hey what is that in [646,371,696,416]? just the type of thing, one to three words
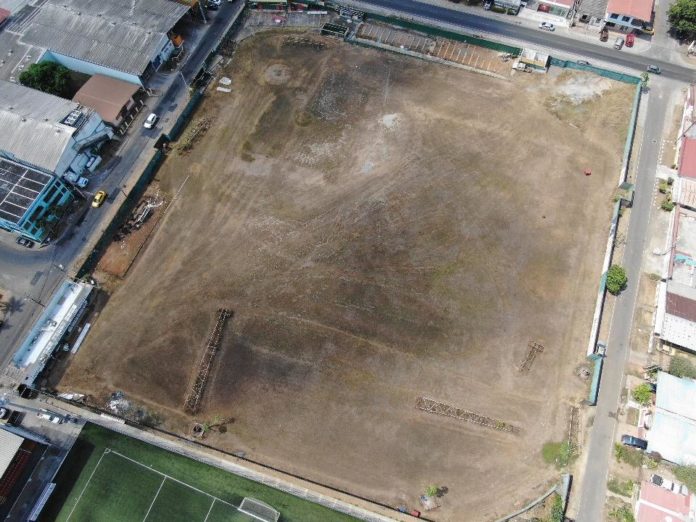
house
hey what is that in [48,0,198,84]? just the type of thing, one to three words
building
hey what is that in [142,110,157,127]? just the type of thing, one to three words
car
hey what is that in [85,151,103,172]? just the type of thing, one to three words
vehicle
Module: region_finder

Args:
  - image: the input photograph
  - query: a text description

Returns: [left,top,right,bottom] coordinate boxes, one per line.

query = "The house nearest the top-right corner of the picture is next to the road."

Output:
[598,0,655,42]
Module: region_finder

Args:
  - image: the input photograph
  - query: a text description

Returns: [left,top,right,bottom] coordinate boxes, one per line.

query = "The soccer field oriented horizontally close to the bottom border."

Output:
[37,421,368,522]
